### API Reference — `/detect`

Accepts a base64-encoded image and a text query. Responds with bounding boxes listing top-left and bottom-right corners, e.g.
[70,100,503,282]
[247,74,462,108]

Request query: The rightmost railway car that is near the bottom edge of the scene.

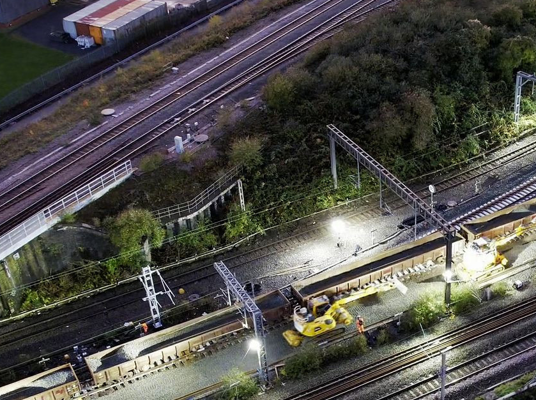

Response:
[82,288,291,388]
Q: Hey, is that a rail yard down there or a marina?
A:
rail yard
